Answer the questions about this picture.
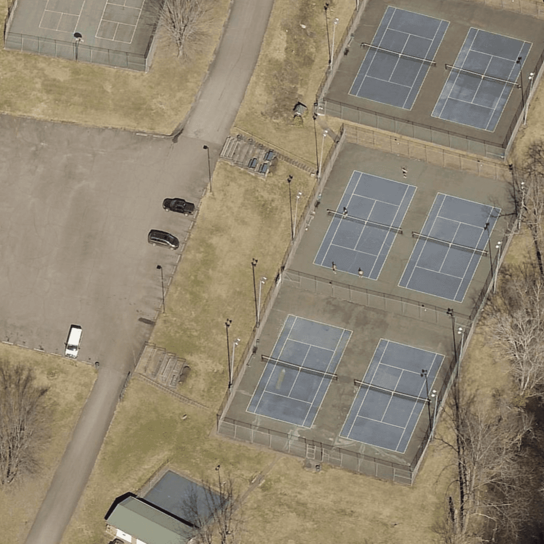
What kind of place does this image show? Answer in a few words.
sports ground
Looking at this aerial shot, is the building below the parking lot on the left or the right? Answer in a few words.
left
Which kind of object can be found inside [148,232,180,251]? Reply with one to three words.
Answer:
car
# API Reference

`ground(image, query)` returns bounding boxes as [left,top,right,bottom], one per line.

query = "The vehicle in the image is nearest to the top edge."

[160,200,196,217]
